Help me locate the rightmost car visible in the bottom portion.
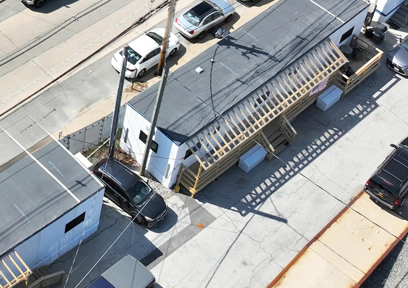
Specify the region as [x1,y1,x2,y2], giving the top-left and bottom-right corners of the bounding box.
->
[363,131,408,218]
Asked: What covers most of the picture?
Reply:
paved ground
